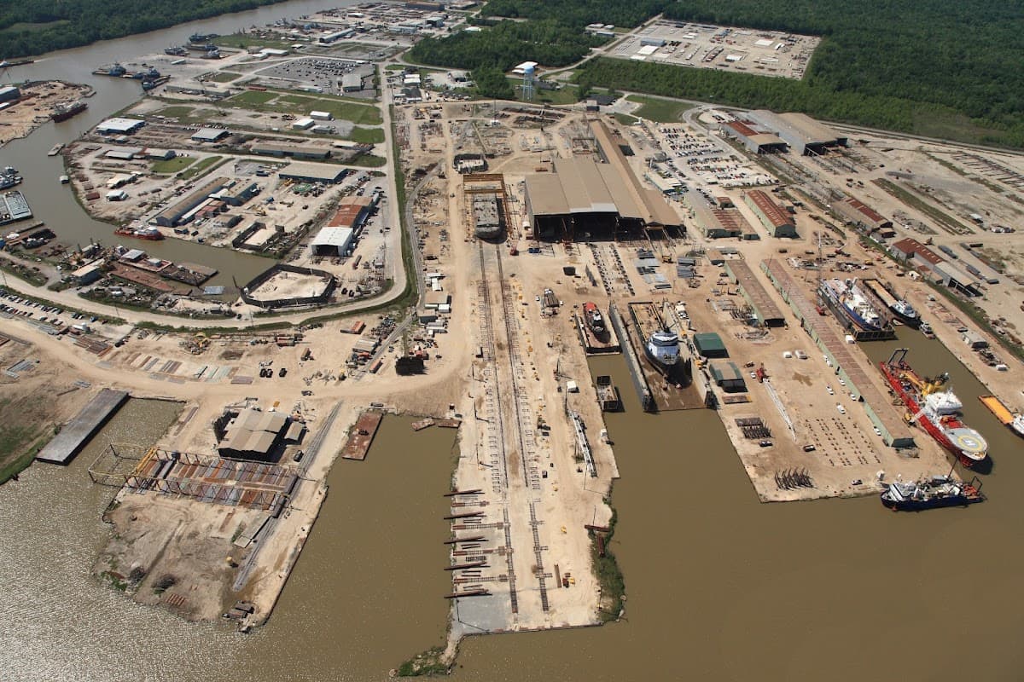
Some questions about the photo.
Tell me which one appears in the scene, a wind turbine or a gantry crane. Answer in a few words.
gantry crane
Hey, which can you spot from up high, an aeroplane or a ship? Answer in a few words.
ship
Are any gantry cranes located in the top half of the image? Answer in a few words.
Yes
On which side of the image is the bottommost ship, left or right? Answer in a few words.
right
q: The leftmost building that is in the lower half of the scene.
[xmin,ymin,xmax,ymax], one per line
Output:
[219,410,289,467]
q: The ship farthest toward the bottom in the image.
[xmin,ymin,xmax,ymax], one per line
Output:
[880,445,992,510]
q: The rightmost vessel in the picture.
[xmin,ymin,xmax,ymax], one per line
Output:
[977,395,1024,456]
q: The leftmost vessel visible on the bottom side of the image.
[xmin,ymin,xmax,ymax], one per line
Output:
[34,390,129,467]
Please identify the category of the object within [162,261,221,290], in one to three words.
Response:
ship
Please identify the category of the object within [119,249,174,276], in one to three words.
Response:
ship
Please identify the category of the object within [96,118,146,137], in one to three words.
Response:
building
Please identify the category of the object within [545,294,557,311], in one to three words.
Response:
vehicle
